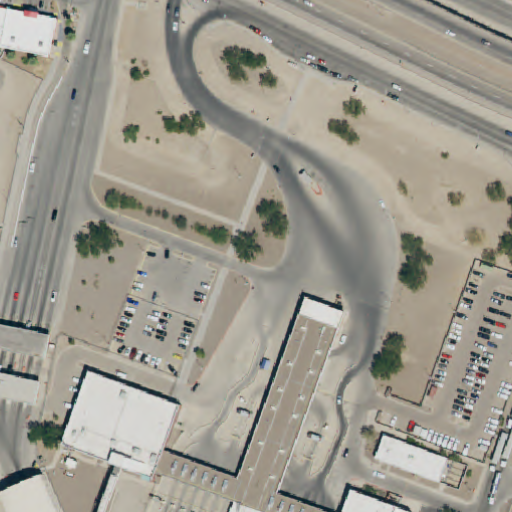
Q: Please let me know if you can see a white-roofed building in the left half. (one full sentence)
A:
Yes, there is a white-roofed building in the left half.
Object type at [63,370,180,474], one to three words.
building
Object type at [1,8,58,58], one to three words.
building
